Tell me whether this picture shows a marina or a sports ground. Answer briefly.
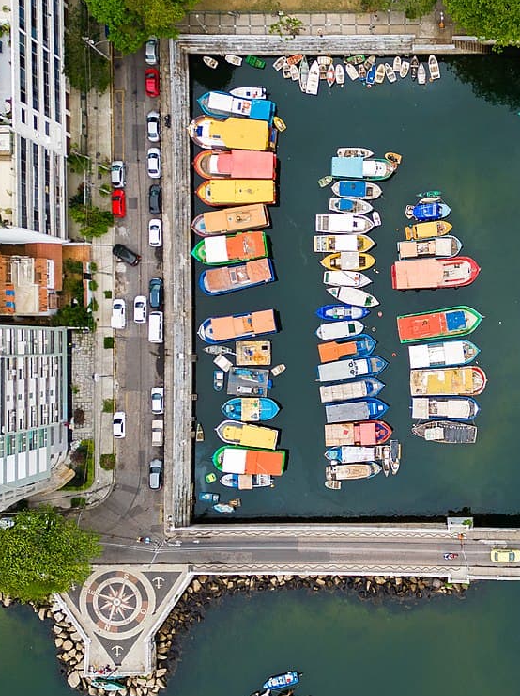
marina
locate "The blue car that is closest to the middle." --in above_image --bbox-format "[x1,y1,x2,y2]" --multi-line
[149,277,164,309]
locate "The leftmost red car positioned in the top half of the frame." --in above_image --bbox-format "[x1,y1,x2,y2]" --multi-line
[110,189,127,218]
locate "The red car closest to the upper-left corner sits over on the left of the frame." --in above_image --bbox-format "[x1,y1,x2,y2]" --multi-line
[143,69,160,98]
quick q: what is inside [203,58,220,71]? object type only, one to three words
boat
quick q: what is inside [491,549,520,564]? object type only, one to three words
car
